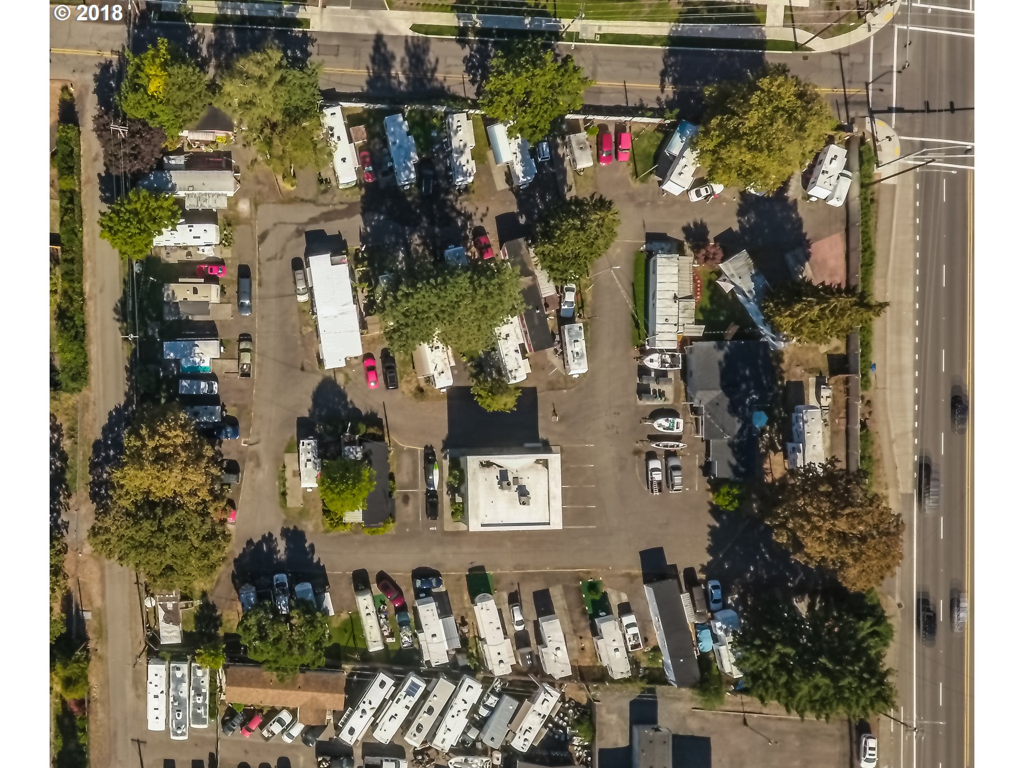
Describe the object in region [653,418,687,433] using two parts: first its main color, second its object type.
white boat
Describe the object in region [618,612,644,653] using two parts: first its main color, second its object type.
white truck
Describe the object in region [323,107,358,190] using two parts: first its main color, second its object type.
white camper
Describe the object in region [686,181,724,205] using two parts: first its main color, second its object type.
white car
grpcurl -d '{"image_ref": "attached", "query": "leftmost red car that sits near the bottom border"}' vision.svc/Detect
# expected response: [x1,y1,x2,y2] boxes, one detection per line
[239,709,266,740]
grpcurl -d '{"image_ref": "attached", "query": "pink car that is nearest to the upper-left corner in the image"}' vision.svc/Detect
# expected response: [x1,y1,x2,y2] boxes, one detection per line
[195,265,227,278]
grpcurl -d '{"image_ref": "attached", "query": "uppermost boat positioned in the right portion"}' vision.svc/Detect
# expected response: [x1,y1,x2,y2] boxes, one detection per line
[642,352,685,370]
